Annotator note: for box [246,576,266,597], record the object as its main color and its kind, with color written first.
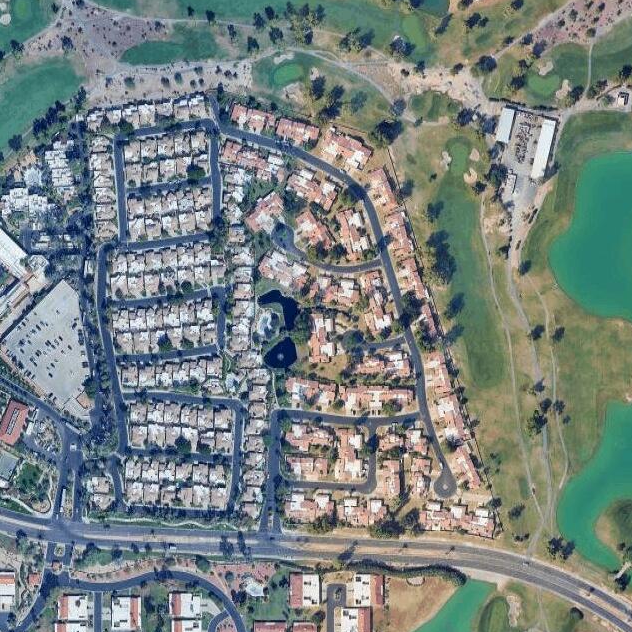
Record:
white swimming pool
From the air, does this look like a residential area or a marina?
residential area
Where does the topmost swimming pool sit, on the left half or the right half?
left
